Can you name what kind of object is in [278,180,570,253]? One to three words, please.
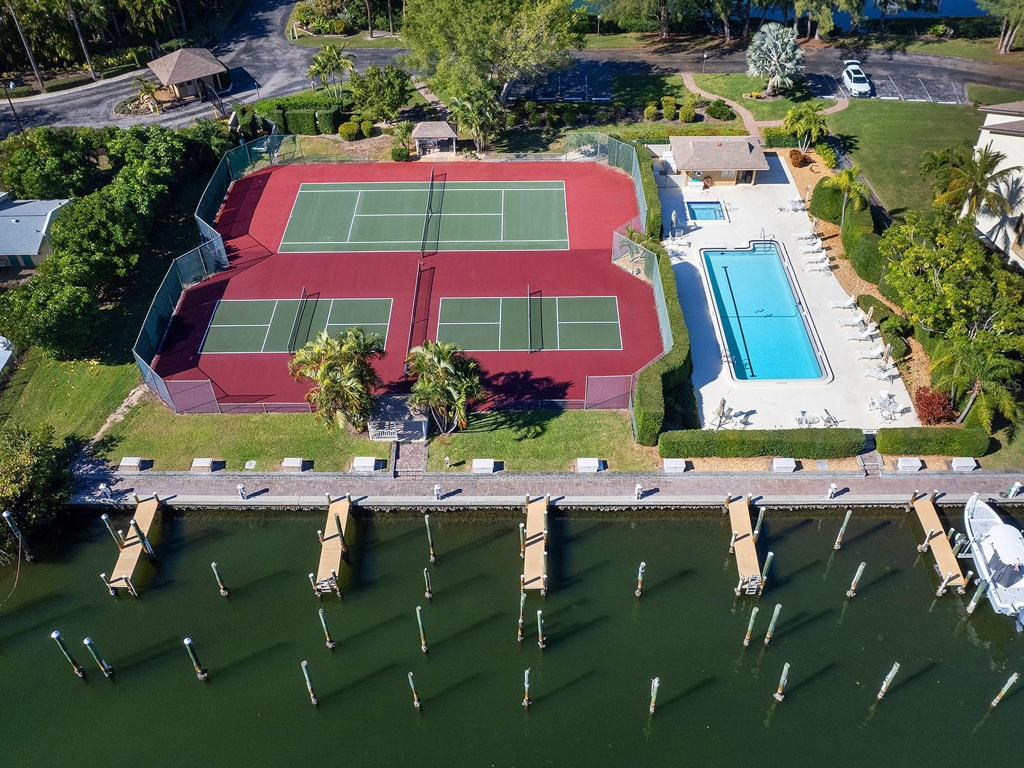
tennis court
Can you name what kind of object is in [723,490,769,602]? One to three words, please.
pier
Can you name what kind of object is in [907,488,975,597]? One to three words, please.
pier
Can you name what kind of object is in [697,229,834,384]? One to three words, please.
swimming pool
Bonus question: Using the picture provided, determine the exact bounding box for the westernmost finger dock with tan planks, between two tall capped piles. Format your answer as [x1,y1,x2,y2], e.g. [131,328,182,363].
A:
[100,493,167,601]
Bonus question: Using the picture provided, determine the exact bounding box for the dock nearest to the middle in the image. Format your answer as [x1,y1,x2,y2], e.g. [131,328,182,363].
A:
[517,491,552,599]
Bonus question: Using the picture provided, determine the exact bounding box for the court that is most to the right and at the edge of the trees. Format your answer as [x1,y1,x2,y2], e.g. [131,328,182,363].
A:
[436,297,623,350]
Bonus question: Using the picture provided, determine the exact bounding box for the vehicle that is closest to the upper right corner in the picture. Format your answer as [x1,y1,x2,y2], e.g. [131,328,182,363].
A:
[843,56,872,94]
